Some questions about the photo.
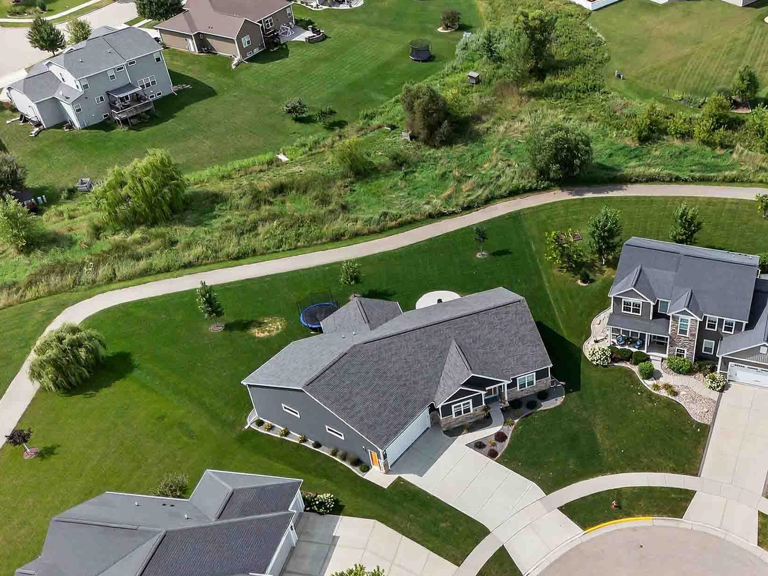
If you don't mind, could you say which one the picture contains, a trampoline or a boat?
trampoline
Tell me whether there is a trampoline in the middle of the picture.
Yes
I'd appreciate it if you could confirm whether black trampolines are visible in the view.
Yes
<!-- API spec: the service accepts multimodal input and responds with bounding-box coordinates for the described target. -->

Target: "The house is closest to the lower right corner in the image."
[605,236,768,386]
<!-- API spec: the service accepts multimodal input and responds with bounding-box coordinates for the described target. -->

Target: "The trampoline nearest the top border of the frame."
[407,41,433,64]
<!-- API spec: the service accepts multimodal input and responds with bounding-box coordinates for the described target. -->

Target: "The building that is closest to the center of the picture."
[236,287,559,470]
